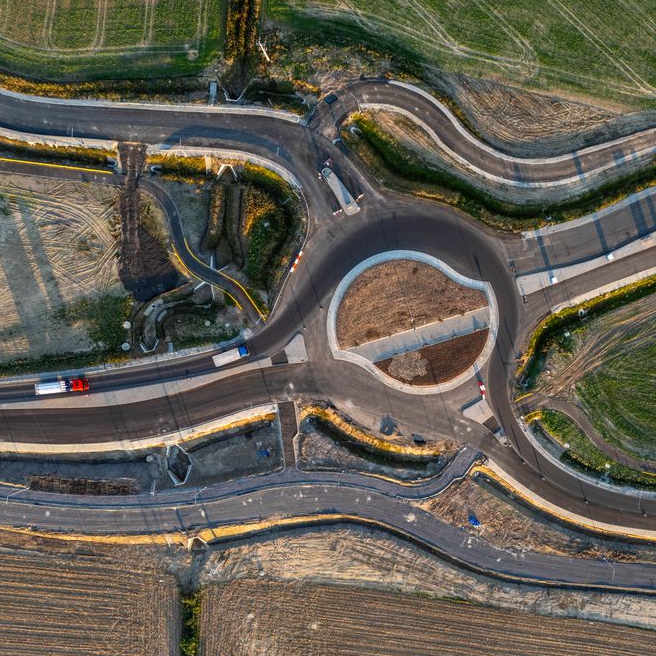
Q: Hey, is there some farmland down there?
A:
Yes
